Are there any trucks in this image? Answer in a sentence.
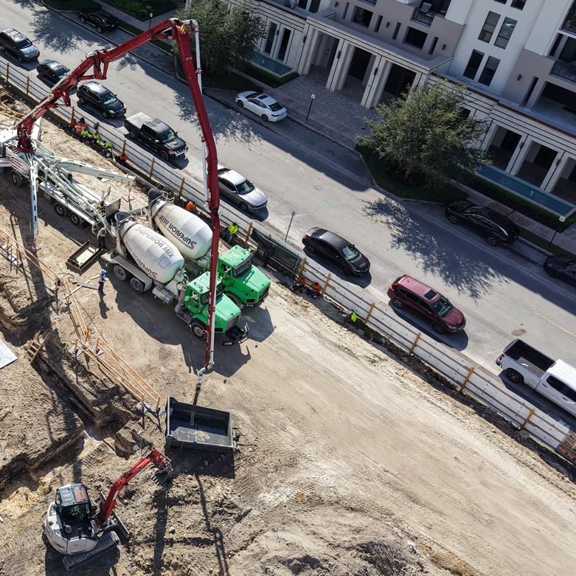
Yes, there's a truck down there.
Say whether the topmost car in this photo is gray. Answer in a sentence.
No, the color of the topmost car is black.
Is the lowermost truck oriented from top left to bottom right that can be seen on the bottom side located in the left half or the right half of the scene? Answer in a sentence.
It is on the right.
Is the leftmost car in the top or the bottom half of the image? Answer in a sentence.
Seen from above, the leftmost car lies in the top half of the view.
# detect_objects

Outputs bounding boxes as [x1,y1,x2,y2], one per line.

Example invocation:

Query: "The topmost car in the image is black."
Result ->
[82,9,127,36]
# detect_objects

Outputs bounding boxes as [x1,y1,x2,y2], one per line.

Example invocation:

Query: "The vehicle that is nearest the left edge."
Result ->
[0,32,41,66]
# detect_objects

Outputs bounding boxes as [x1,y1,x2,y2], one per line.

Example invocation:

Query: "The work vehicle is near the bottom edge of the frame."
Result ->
[41,430,158,571]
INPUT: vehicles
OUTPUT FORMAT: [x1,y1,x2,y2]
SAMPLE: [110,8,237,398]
[234,92,294,127]
[126,118,194,166]
[98,205,257,362]
[210,173,278,221]
[82,9,127,36]
[387,280,477,347]
[445,203,529,253]
[0,15,225,427]
[32,59,69,88]
[0,32,41,66]
[300,229,378,287]
[76,83,128,123]
[41,430,158,571]
[499,344,576,424]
